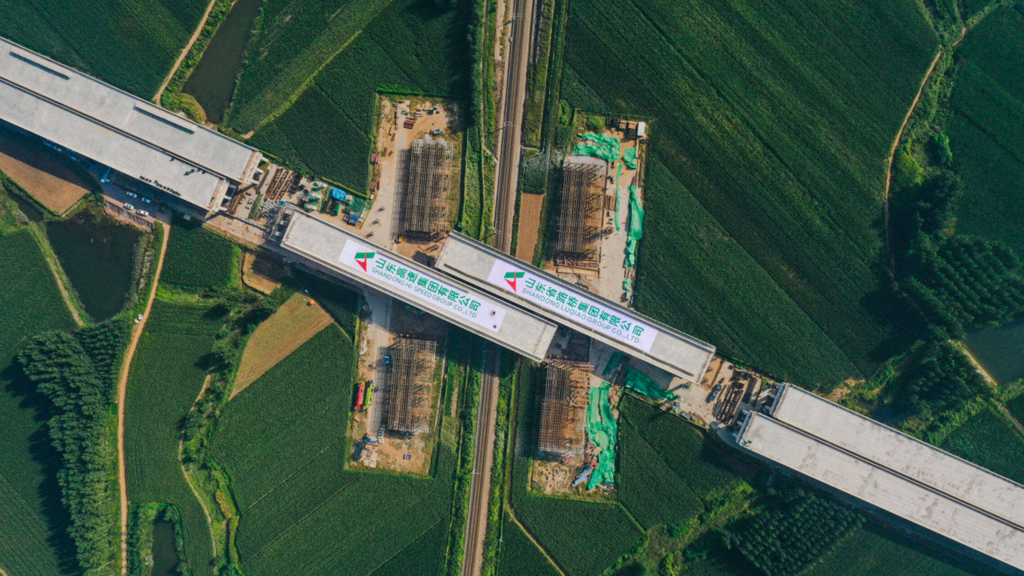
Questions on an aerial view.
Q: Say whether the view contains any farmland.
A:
Yes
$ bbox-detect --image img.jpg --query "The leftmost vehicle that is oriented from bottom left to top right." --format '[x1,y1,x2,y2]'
[97,165,111,182]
